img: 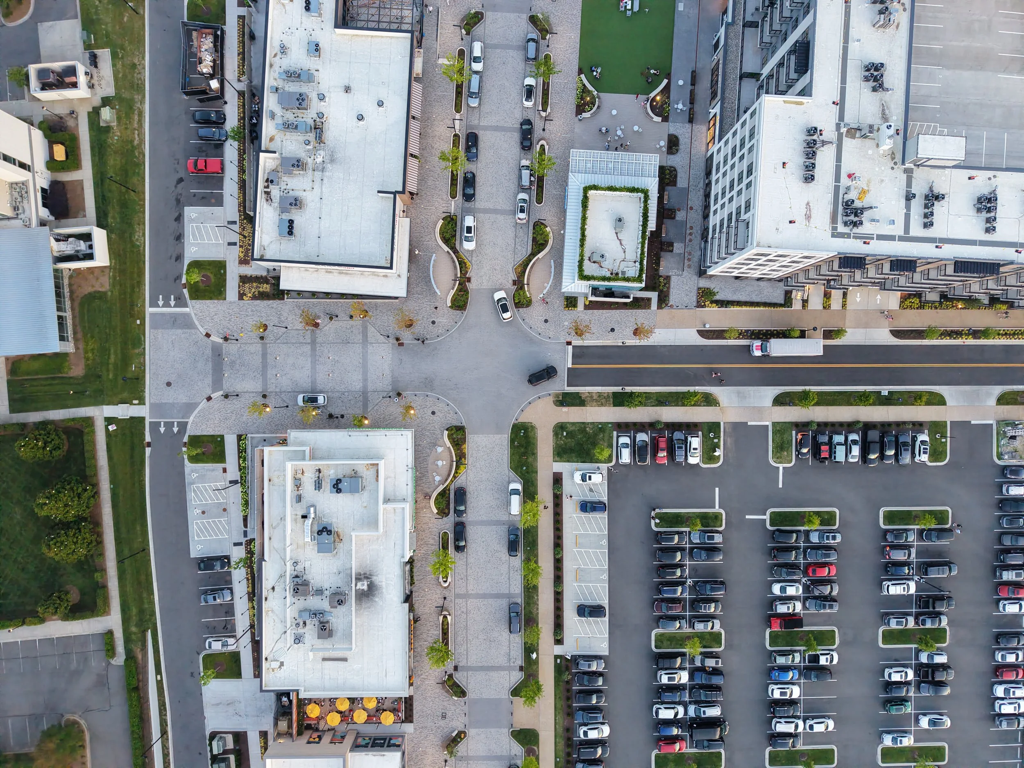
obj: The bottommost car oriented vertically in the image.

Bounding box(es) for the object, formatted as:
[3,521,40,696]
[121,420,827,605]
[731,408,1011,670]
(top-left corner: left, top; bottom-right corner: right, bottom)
[506,602,521,634]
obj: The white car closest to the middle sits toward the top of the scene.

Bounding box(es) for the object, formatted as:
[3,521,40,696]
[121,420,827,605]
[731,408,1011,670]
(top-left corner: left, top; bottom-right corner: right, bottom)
[493,290,513,323]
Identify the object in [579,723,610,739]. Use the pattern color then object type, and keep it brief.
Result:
white car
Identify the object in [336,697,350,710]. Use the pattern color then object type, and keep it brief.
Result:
yellow umbrella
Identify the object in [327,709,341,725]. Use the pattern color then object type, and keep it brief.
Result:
yellow umbrella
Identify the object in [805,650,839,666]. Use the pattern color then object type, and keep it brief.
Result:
white vehicle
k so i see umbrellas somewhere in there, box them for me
[354,707,368,722]
[336,697,350,710]
[307,701,321,717]
[381,708,395,724]
[327,709,341,725]
[363,697,378,709]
